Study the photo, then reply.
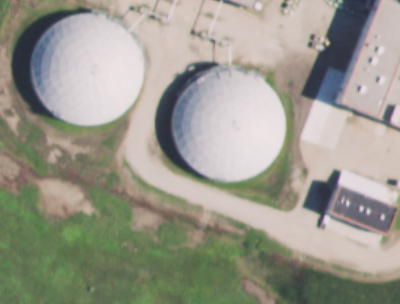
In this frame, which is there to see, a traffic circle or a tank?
tank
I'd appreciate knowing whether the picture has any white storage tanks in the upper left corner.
Yes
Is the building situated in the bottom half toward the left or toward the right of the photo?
right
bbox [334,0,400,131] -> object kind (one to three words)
building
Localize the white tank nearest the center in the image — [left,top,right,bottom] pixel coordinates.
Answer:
[171,64,284,182]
